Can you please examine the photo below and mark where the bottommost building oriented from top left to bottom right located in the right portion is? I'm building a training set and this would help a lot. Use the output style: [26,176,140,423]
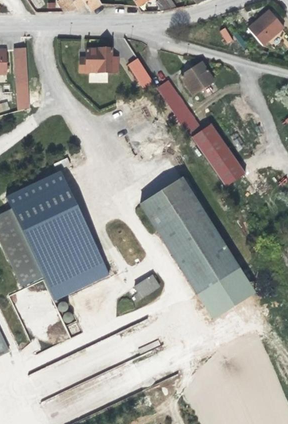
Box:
[141,176,256,318]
